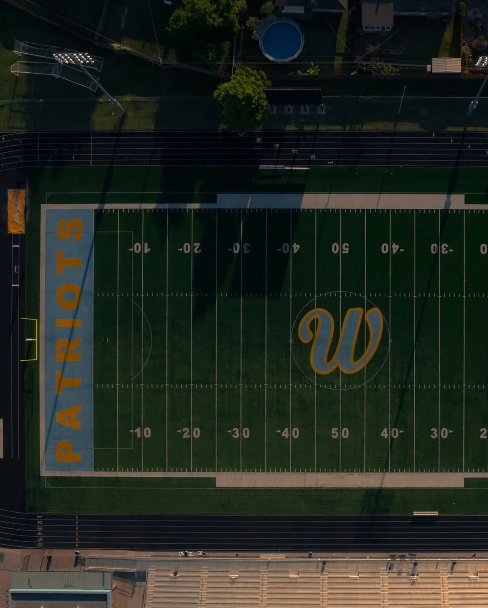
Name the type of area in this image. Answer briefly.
sports ground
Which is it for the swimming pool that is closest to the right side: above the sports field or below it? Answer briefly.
above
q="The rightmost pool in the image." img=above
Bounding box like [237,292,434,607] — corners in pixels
[257,13,304,63]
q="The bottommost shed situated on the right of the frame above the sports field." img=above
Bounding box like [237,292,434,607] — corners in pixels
[431,57,460,74]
